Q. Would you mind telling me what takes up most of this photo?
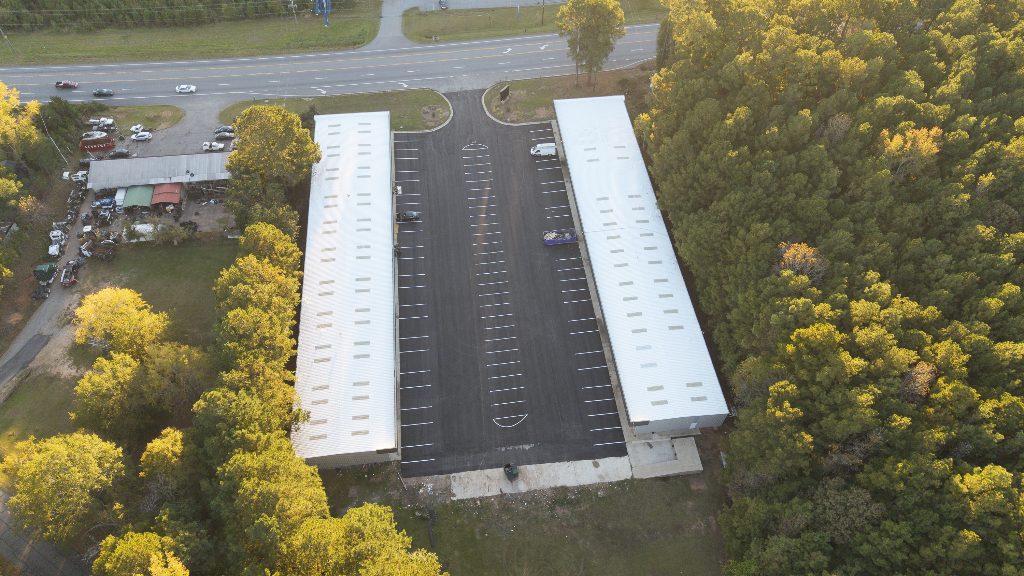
trees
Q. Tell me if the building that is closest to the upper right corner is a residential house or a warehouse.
warehouse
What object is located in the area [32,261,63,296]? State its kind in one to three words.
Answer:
truck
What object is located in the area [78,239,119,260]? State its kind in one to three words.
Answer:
truck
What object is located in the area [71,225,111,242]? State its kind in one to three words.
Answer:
work vehicle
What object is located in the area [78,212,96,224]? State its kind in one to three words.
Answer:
vehicle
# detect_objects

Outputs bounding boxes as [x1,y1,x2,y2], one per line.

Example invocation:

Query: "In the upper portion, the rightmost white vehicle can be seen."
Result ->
[530,143,556,158]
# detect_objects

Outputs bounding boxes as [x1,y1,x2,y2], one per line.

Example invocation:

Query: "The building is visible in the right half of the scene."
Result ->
[552,95,729,433]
